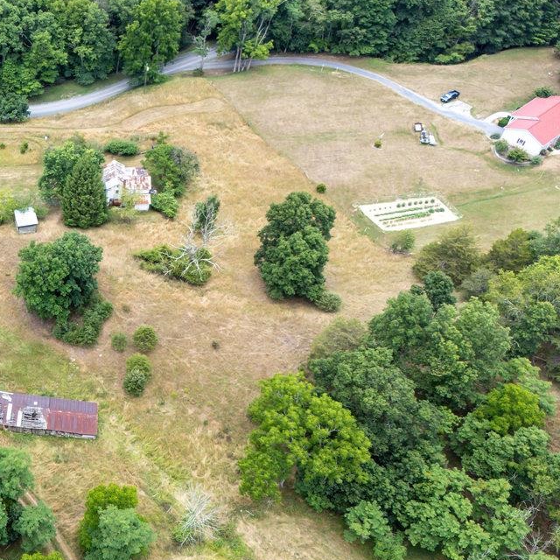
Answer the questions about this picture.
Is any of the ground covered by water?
No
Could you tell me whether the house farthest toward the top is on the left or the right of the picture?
right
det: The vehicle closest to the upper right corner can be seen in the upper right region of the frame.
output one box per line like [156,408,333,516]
[443,90,462,102]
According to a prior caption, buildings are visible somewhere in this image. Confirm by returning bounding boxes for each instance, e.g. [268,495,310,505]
[107,162,165,210]
[0,390,101,444]
[12,207,38,234]
[500,102,560,154]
